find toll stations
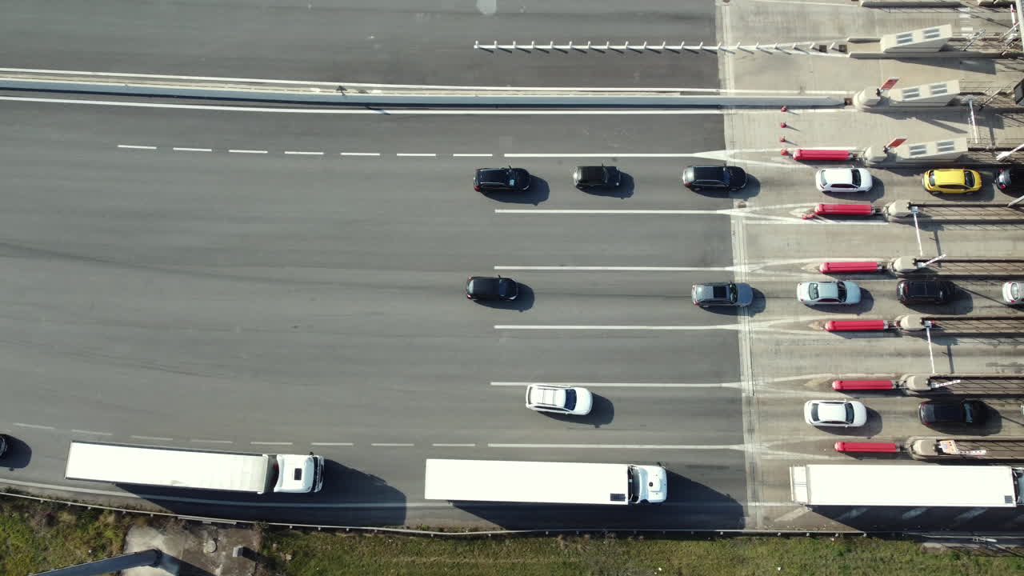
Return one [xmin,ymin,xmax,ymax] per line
[717,0,1024,541]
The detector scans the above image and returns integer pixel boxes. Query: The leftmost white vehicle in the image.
[64,441,327,498]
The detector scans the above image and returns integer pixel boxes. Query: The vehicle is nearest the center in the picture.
[466,274,519,303]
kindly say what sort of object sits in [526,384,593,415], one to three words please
car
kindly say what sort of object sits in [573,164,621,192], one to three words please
car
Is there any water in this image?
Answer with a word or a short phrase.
No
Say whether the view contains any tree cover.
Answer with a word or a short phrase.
No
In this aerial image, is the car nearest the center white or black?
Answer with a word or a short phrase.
black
